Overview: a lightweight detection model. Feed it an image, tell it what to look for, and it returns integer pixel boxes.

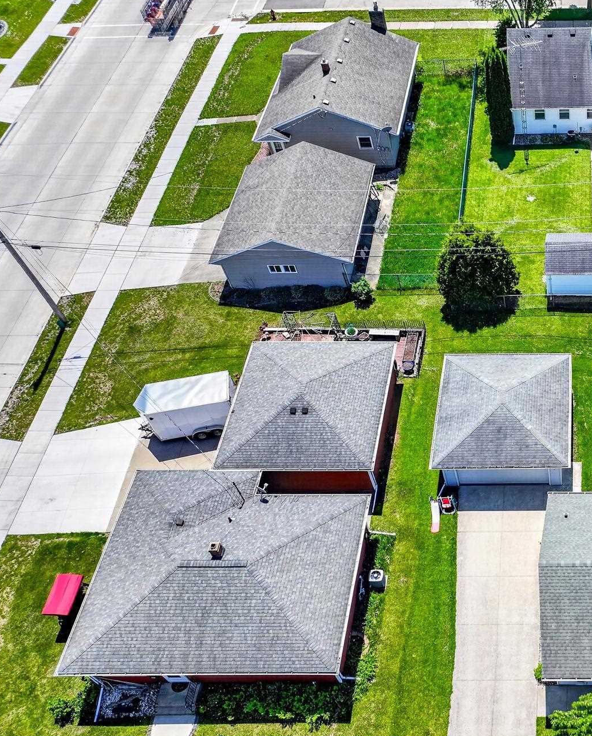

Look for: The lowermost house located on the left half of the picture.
[53,469,400,717]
